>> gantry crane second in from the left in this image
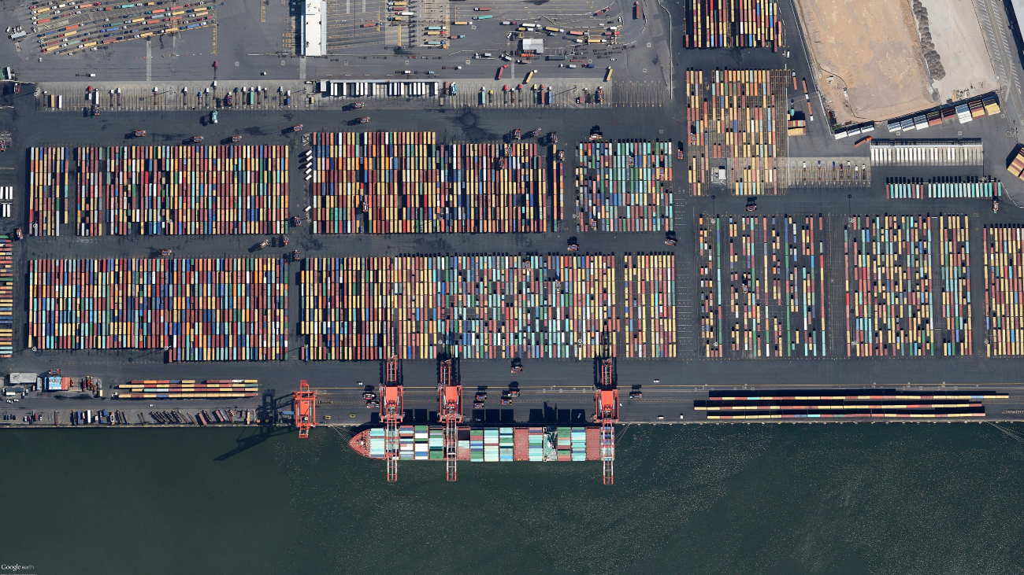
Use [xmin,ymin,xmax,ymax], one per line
[379,356,405,483]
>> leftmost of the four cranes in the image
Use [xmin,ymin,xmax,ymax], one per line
[292,381,318,440]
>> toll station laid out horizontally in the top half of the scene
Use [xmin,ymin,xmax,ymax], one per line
[578,29,623,44]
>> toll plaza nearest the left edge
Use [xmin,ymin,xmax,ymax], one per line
[407,0,432,46]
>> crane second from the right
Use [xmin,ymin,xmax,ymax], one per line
[438,356,464,483]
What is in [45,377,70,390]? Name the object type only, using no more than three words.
building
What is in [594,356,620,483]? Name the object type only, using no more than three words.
container crane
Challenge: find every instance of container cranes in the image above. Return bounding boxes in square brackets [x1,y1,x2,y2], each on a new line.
[594,356,620,483]
[292,381,318,440]
[438,356,464,483]
[379,356,405,483]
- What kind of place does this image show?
port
